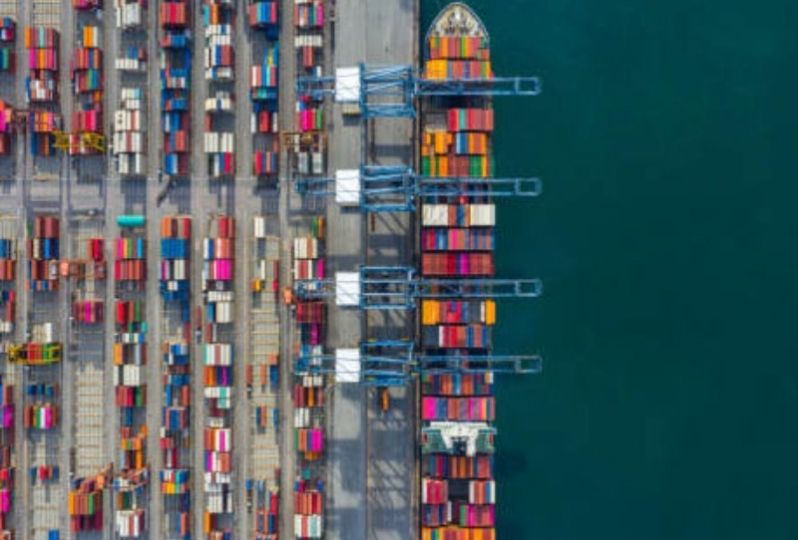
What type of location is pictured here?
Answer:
port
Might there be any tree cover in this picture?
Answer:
No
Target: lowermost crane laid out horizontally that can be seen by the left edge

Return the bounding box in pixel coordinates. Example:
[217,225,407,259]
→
[9,339,65,364]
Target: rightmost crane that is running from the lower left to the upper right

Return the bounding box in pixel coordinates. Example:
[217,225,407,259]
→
[115,457,158,495]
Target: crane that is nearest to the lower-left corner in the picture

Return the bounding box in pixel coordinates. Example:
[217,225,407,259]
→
[79,452,122,489]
